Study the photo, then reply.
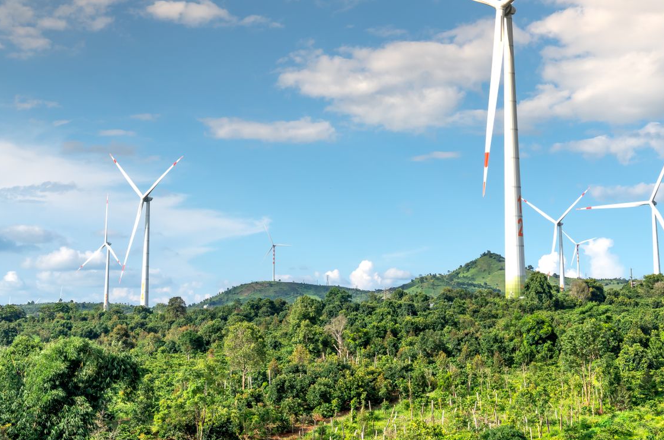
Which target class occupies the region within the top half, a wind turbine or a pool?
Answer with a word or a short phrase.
wind turbine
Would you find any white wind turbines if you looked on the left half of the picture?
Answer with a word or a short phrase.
Yes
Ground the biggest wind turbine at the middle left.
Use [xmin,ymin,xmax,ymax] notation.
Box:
[111,155,184,306]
